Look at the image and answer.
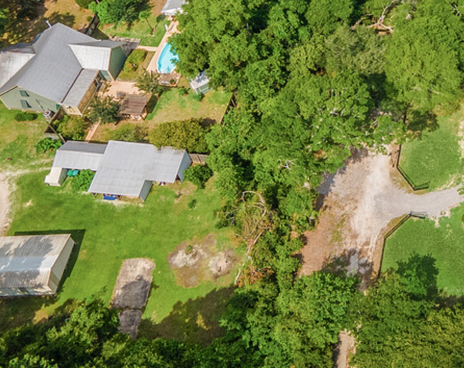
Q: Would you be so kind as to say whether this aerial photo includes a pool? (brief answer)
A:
Yes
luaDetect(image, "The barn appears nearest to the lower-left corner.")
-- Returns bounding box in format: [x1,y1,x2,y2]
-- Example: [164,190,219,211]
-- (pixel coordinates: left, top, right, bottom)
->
[0,234,76,298]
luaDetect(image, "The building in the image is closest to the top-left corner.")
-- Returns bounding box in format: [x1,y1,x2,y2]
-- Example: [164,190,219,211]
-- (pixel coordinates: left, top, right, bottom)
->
[0,18,129,116]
